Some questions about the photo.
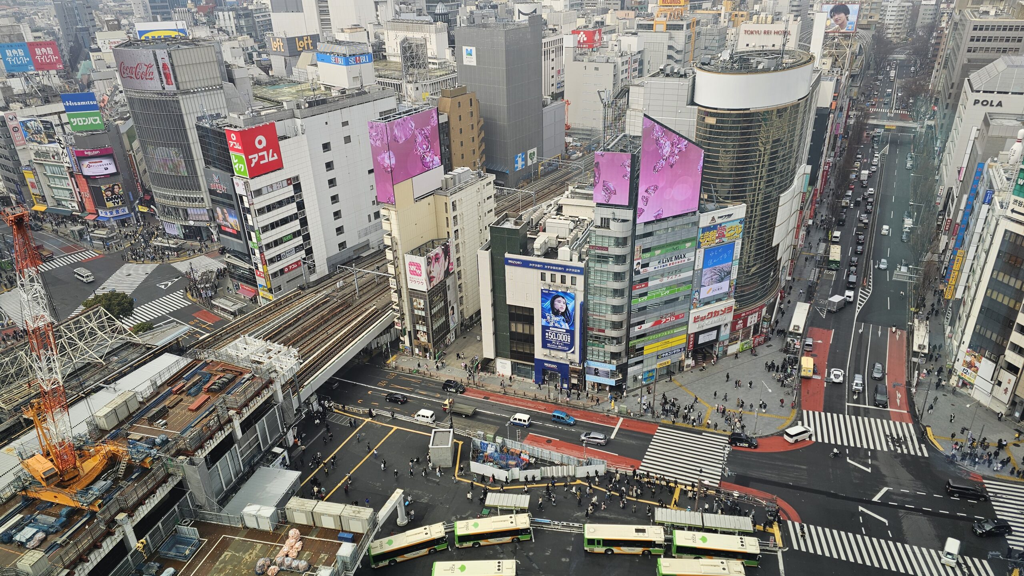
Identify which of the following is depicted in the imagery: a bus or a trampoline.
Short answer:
bus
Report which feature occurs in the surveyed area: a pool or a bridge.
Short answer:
bridge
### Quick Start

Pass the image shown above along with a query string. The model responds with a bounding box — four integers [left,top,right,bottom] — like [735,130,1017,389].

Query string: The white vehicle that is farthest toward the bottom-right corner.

[941,528,965,566]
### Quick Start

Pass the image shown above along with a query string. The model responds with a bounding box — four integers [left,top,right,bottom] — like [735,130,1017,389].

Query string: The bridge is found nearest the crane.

[146,254,390,460]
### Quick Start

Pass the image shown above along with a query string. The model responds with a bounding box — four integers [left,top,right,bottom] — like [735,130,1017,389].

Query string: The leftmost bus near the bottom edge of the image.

[367,519,455,568]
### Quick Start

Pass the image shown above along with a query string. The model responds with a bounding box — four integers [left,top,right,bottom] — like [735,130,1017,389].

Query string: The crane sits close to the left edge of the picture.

[0,195,162,525]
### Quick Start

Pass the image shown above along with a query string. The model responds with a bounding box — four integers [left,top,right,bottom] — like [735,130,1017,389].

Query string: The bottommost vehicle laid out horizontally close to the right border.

[971,518,1017,539]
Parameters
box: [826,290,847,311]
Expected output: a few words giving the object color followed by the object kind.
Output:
gray truck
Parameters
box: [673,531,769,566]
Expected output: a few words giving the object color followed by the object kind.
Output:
white bus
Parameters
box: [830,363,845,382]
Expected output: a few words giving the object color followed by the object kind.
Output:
white car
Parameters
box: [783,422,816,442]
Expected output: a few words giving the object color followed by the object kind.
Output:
white vehicle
